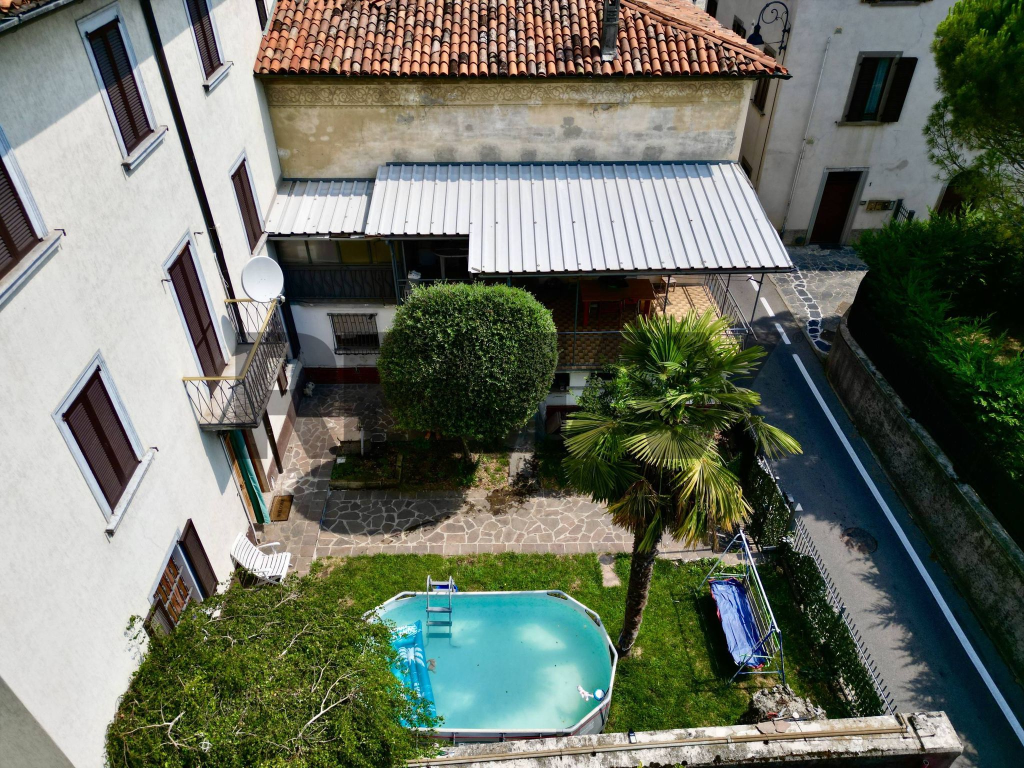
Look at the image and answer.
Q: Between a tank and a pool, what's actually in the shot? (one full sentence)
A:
The image shows a pool.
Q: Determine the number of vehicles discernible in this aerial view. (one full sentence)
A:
I count no vehicles.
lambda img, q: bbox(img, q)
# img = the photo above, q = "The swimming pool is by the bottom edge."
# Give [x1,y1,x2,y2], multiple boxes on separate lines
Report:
[360,590,620,752]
